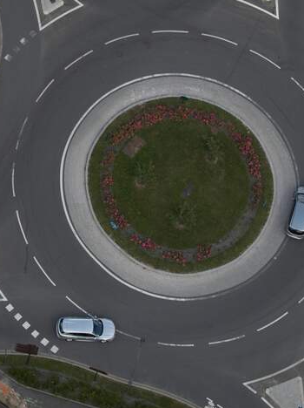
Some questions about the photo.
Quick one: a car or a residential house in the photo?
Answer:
car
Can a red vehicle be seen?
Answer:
No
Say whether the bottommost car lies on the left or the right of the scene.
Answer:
left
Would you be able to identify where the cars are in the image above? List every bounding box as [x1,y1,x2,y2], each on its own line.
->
[55,316,115,345]
[286,187,304,242]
